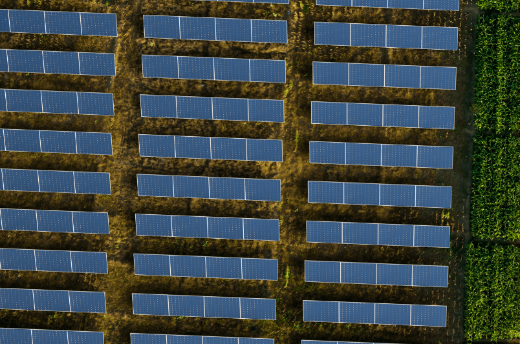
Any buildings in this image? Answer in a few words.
No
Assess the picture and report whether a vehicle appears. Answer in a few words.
No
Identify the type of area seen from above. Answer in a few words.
solar farm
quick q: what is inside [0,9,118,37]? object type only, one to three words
solar array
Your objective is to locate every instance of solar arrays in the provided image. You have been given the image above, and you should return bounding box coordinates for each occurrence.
[0,249,108,274]
[135,215,280,242]
[317,0,460,11]
[0,129,113,155]
[143,15,288,44]
[309,182,452,210]
[132,295,277,322]
[130,334,275,344]
[0,209,110,235]
[137,175,282,203]
[0,9,118,37]
[139,135,283,162]
[0,289,107,314]
[142,55,287,84]
[134,254,279,281]
[0,49,116,77]
[304,302,447,328]
[0,169,112,196]
[140,95,285,123]
[307,222,450,249]
[310,142,453,169]
[0,90,115,116]
[305,261,449,289]
[0,329,104,344]
[313,63,457,91]
[312,102,455,130]
[315,22,458,51]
